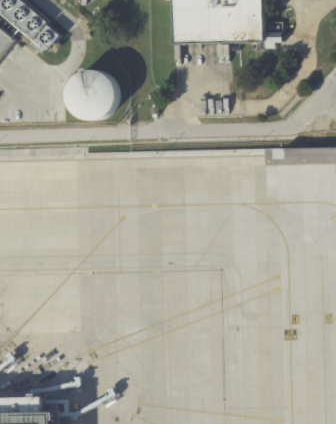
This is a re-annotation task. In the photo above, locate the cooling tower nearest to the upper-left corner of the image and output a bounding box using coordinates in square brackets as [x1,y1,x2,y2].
[0,0,62,52]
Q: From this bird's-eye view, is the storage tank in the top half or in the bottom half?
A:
top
